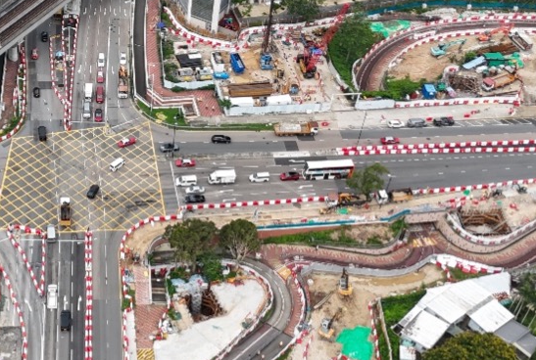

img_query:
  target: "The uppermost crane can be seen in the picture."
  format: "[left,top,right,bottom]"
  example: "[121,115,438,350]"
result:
[299,18,345,72]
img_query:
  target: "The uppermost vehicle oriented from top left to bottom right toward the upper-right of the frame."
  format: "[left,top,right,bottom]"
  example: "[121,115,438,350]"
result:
[511,26,534,45]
